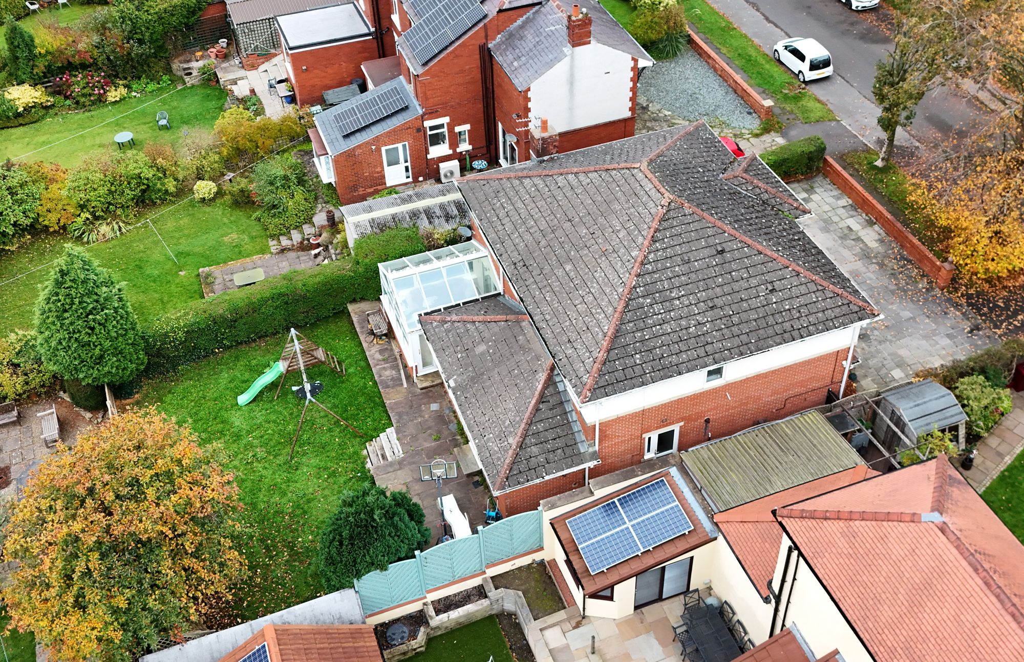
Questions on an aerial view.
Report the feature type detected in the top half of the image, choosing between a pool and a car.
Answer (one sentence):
The one visible in the top half of the image is a car.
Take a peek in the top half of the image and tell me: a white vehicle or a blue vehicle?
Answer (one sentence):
The feature located in the top half of the image is a white vehicle.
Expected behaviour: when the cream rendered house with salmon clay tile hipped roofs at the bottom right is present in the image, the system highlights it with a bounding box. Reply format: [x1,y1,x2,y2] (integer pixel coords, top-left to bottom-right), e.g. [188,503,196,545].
[541,451,1024,662]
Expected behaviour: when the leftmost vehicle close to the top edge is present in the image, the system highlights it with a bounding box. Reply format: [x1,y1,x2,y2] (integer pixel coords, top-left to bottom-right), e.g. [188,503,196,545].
[772,33,836,83]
